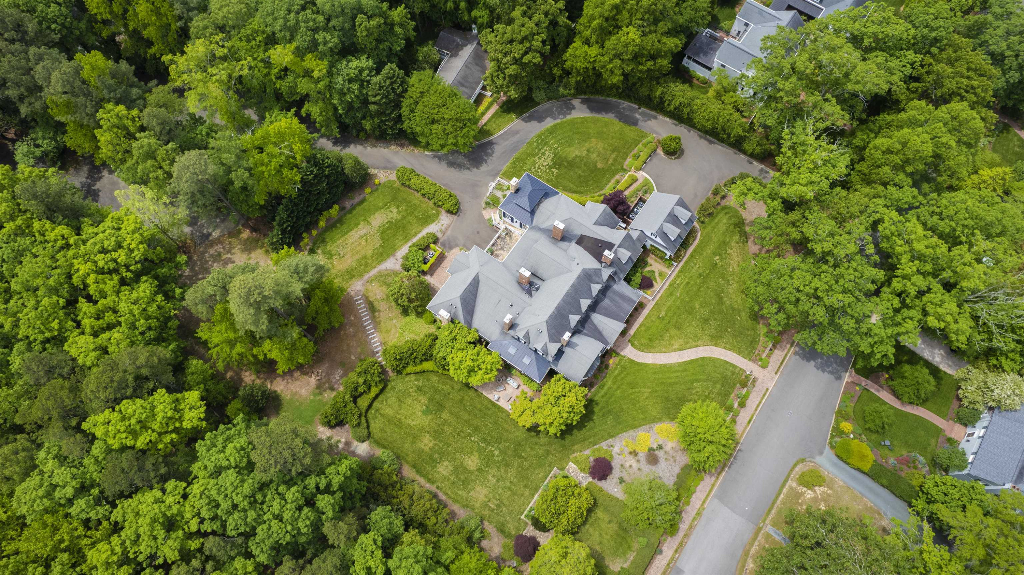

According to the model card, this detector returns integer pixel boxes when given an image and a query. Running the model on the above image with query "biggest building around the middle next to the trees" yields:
[426,172,648,381]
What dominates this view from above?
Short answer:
trees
